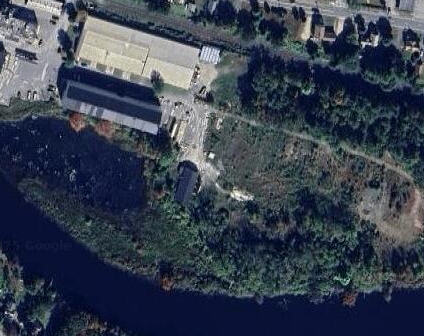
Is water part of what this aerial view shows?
Yes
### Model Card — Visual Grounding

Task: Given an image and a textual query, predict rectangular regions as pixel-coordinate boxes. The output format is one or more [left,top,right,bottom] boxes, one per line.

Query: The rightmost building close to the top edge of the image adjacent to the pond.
[77,16,200,89]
